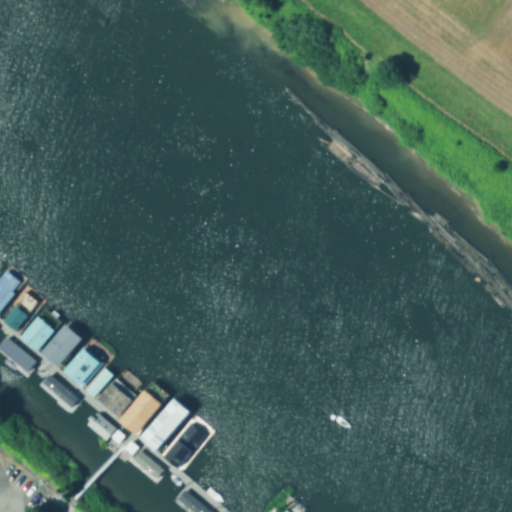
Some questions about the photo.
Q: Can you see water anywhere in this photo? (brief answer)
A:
Yes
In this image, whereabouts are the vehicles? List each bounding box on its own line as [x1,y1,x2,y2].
[16,474,28,486]
[9,470,21,482]
[36,496,48,508]
[22,480,34,492]
[26,484,38,498]
[30,492,44,504]
[5,465,16,476]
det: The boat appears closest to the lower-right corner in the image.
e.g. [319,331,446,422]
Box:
[334,414,352,428]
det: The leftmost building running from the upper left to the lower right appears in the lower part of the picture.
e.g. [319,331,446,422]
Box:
[0,338,38,378]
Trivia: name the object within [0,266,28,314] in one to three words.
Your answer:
house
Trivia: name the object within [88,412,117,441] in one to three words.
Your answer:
building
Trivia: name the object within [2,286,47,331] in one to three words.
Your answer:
house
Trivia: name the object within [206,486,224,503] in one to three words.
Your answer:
boat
